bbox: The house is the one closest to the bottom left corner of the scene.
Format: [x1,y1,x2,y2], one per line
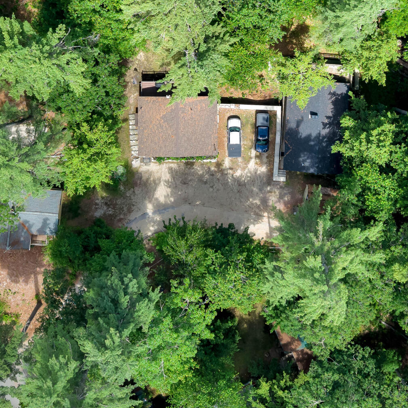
[0,188,64,257]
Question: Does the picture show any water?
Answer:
No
